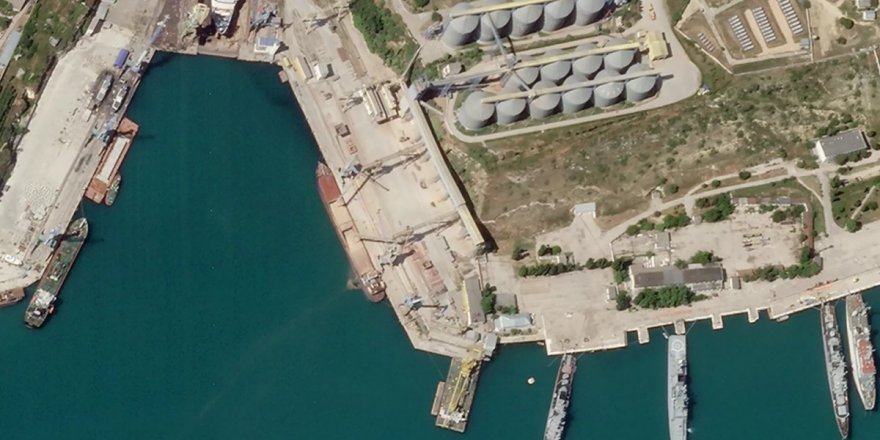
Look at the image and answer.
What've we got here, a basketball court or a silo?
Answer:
silo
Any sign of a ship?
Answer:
Yes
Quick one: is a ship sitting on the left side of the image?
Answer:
Yes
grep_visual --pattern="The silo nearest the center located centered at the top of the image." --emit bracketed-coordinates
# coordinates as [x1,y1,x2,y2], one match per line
[460,92,495,130]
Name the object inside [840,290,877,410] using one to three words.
ship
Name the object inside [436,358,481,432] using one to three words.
crane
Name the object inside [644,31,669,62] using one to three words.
shed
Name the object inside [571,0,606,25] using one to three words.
silo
